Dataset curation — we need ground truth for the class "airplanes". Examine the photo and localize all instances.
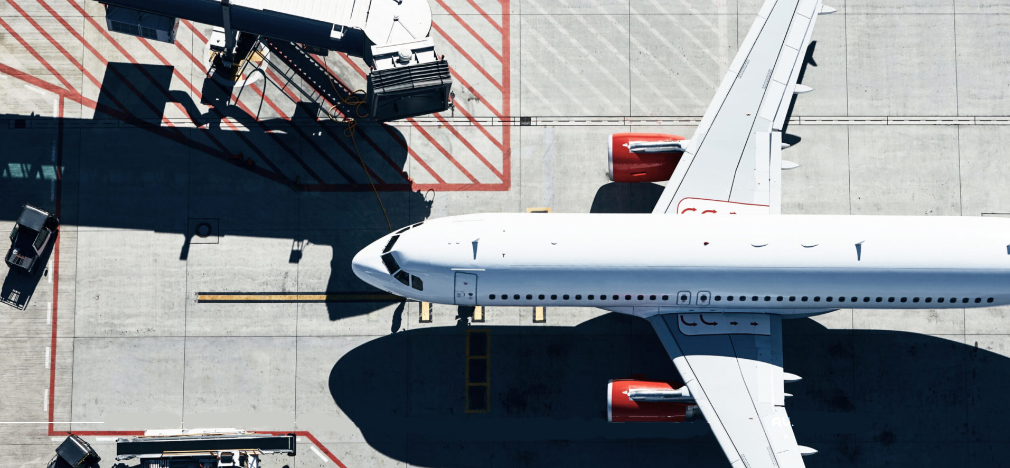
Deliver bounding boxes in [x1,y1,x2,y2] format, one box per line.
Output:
[352,0,1010,468]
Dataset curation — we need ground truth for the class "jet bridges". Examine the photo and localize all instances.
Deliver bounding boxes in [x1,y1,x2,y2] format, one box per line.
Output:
[103,0,463,124]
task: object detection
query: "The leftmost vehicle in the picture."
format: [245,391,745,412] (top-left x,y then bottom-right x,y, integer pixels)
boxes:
[4,201,57,274]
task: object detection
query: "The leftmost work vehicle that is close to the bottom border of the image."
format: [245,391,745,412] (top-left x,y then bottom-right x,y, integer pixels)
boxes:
[48,433,102,468]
